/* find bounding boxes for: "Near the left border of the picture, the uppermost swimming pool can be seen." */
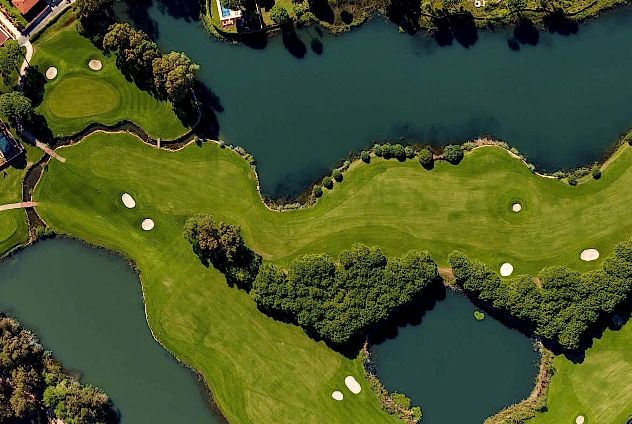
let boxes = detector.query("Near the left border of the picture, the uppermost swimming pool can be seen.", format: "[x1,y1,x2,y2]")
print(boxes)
[0,132,17,161]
